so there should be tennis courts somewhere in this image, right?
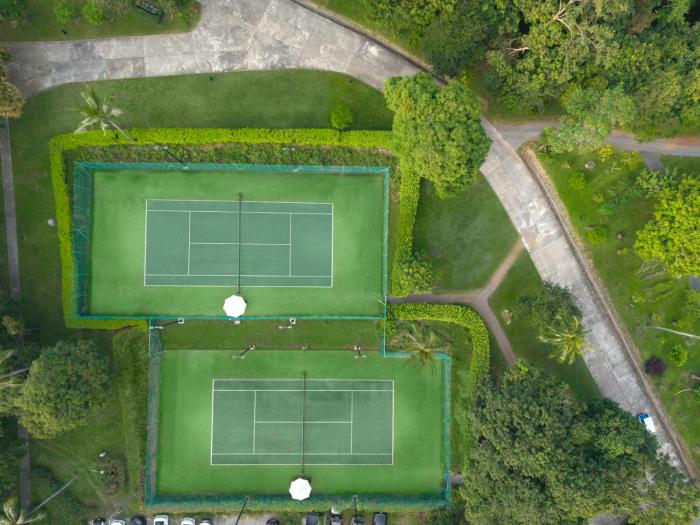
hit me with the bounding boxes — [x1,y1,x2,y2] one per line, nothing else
[159,349,446,496]
[90,171,385,318]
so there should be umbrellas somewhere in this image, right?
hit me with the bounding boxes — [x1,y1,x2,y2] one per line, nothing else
[288,476,312,500]
[223,294,246,317]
